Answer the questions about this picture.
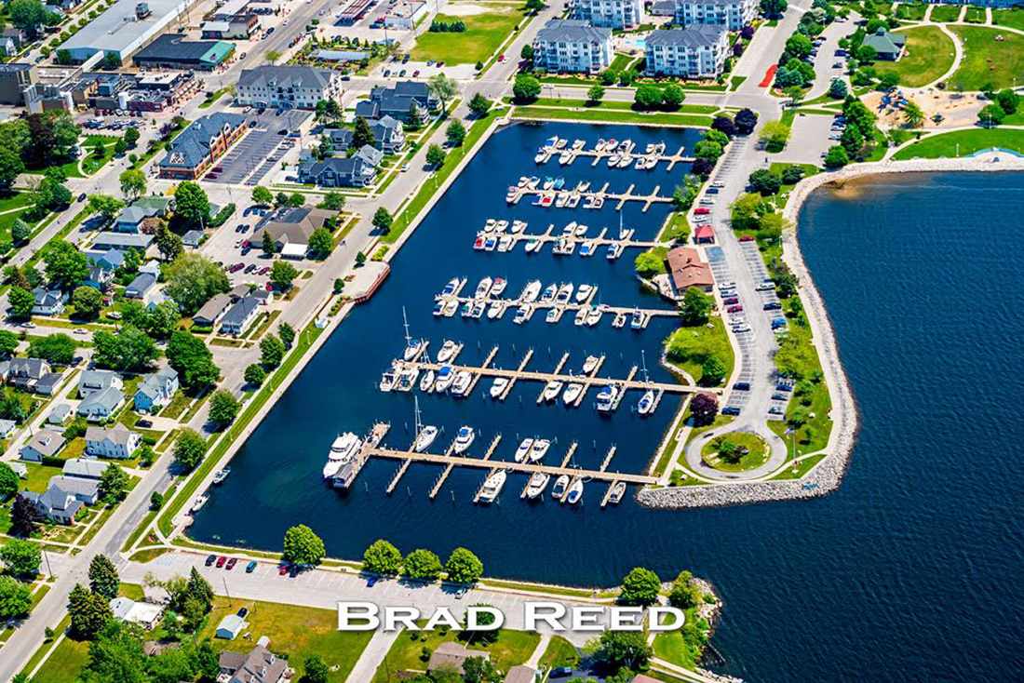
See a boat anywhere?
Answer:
Yes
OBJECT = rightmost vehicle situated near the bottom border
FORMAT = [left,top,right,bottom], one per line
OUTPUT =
[551,663,569,682]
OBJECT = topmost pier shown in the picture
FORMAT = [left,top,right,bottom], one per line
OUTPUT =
[542,138,695,172]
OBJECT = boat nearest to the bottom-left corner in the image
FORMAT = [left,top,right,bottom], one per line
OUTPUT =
[192,490,212,513]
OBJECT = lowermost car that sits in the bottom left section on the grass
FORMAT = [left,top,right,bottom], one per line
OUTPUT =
[235,605,250,619]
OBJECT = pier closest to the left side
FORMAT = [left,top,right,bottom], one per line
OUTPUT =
[336,422,394,491]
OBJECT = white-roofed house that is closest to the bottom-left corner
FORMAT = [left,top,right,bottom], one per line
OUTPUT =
[110,598,166,633]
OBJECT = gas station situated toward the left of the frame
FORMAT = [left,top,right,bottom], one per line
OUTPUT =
[336,0,379,29]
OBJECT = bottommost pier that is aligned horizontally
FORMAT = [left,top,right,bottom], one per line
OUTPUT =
[367,430,659,509]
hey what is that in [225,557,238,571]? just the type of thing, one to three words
vehicle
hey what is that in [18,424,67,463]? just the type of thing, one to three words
house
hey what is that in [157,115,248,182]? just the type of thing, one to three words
building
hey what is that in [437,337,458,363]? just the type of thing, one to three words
boat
